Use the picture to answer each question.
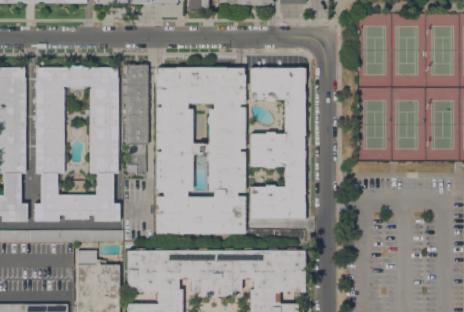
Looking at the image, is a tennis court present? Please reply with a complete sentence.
Yes, you can see a tennis court in this photo.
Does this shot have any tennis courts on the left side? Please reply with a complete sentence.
No, on the left side there is no tennis court.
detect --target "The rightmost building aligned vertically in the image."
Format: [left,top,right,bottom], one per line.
[250,67,308,218]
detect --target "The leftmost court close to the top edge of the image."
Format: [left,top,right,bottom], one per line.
[360,12,392,86]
